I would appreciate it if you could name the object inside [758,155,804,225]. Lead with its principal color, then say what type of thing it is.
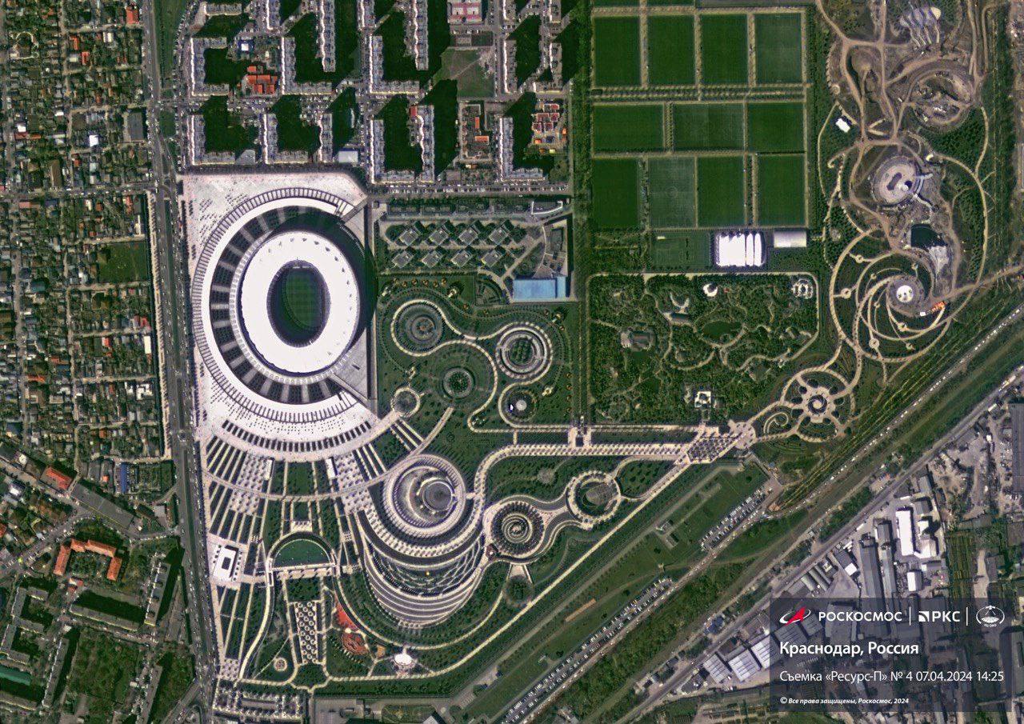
green soccer field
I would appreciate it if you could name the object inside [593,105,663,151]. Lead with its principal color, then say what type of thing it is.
green soccer field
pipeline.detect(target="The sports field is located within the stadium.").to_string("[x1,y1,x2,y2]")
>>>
[273,267,322,342]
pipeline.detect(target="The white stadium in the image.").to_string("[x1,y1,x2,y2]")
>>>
[202,196,365,413]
